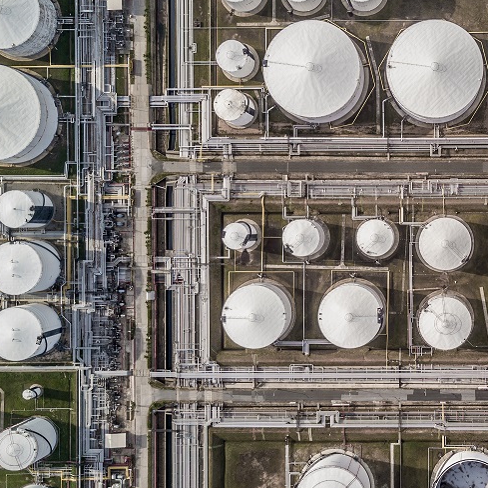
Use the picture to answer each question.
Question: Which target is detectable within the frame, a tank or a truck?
tank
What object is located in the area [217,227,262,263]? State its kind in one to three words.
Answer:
storage tank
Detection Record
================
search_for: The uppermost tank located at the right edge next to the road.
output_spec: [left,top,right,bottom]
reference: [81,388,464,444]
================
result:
[379,20,488,136]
